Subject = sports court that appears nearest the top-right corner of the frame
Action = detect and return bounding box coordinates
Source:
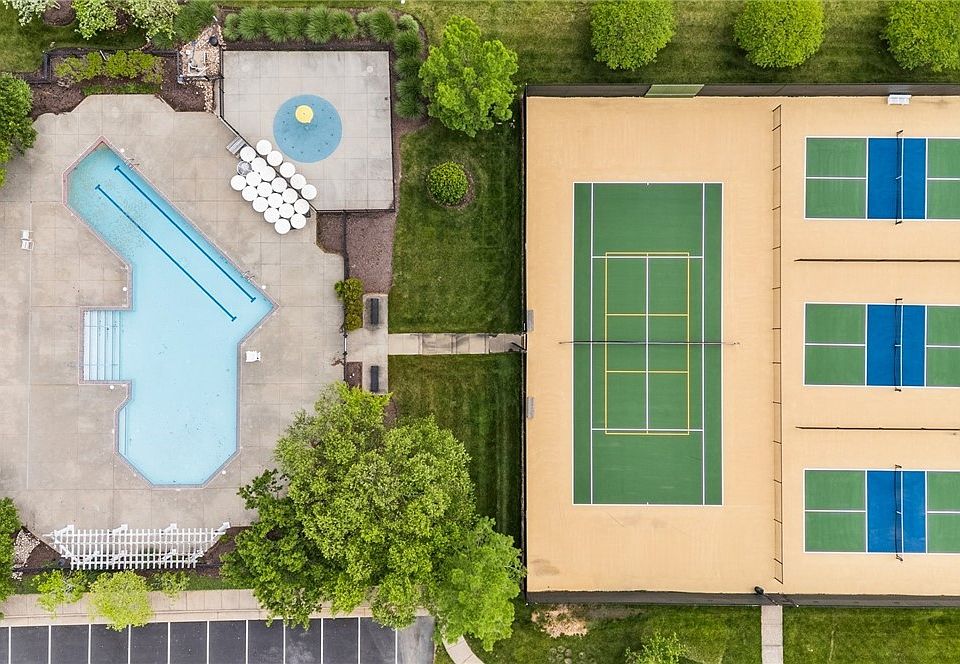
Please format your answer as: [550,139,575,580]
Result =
[805,137,960,219]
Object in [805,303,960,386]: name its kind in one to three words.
sports court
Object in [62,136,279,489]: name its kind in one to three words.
swimming pool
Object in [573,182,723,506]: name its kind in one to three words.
tennis court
